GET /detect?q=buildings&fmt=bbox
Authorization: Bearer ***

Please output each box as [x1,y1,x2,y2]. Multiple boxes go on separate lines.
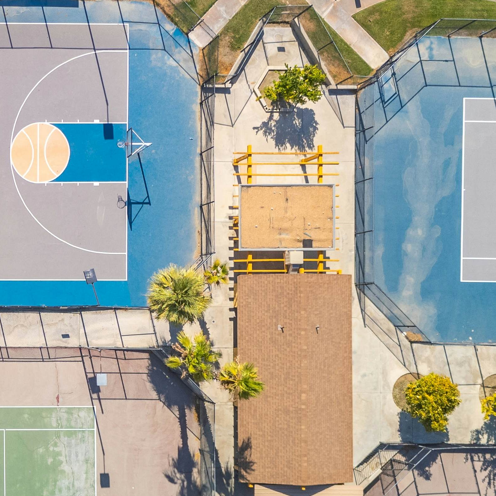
[233,183,335,252]
[232,275,352,490]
